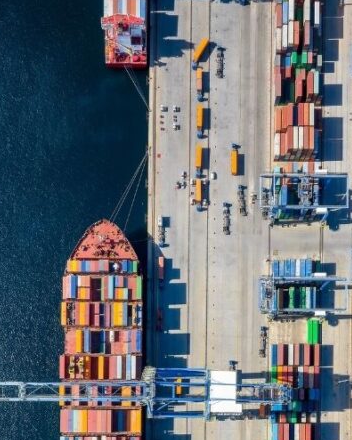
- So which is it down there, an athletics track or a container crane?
container crane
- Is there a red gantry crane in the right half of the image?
No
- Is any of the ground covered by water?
Yes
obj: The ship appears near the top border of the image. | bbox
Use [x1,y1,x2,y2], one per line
[102,0,148,67]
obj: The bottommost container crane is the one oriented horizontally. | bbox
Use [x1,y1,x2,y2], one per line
[0,361,290,423]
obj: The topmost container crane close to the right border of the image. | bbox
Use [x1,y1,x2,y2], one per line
[261,169,352,216]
